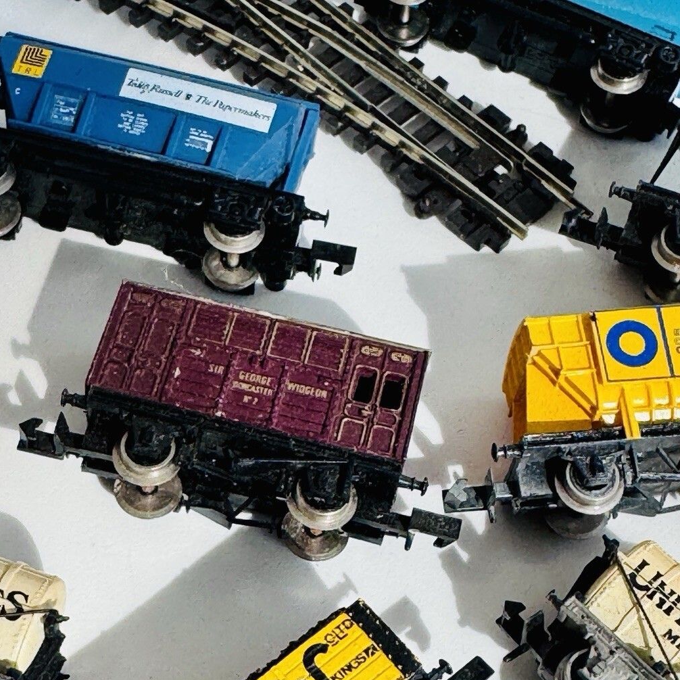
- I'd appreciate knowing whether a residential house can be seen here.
No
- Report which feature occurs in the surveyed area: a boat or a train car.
train car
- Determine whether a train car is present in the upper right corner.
Yes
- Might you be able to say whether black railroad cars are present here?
Yes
